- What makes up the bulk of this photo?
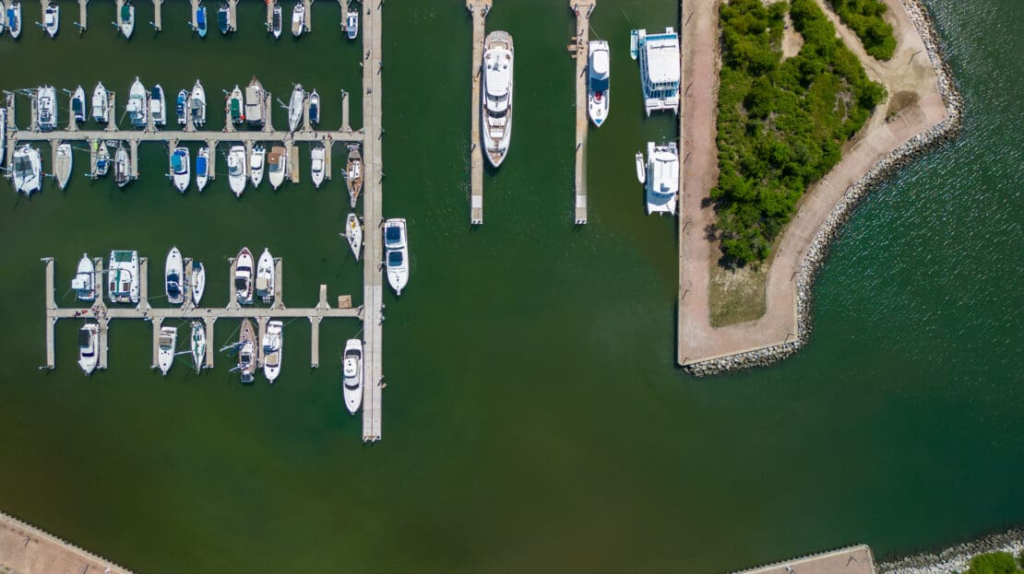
water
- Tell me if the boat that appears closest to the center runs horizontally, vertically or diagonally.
vertically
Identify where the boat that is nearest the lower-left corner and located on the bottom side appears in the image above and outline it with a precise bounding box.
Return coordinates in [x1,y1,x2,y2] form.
[78,315,100,376]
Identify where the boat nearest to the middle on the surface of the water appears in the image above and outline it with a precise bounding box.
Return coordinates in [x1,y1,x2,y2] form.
[381,219,408,297]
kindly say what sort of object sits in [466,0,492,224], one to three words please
pier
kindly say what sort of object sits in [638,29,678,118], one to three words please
ship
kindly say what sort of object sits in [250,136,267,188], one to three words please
boat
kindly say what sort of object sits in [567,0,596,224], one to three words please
pier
